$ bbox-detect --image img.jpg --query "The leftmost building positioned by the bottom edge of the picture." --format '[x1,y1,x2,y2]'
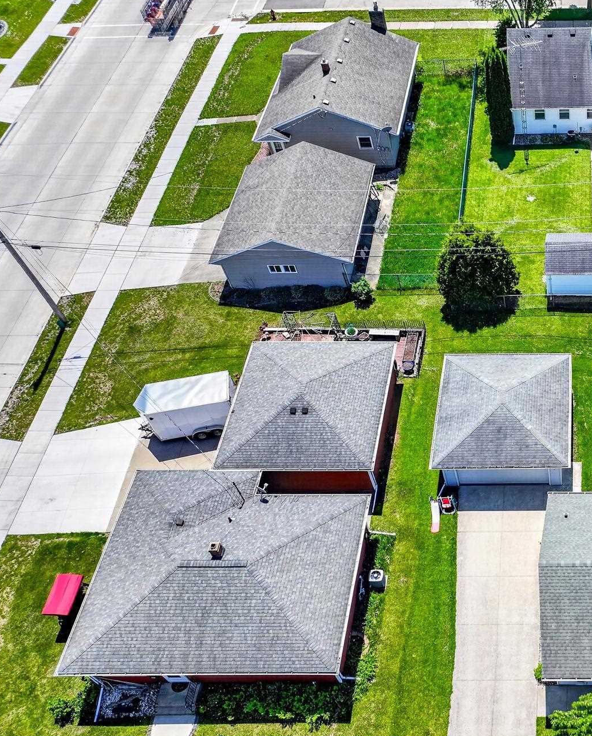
[53,469,400,717]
